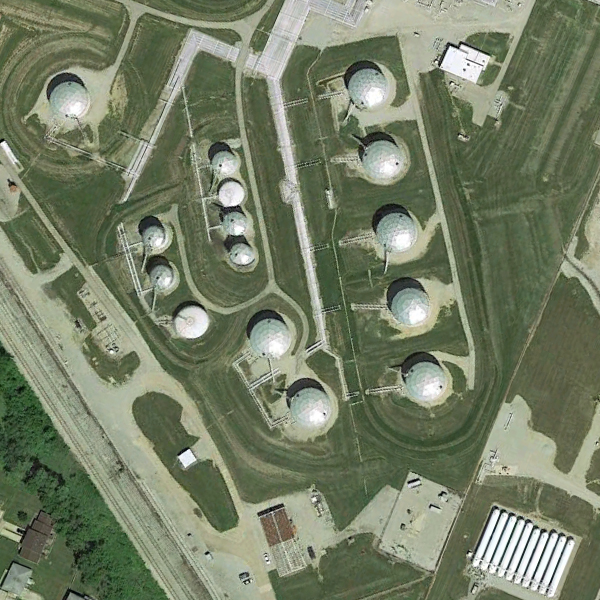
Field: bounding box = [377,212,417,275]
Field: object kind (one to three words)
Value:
storage tank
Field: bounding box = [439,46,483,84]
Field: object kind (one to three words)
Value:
building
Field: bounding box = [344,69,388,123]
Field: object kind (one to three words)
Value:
storage tank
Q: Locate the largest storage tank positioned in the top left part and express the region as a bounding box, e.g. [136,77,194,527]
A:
[50,80,90,139]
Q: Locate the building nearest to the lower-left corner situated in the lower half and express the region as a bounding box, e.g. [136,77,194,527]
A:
[2,561,31,594]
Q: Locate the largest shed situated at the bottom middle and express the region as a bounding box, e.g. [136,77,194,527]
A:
[259,507,295,546]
